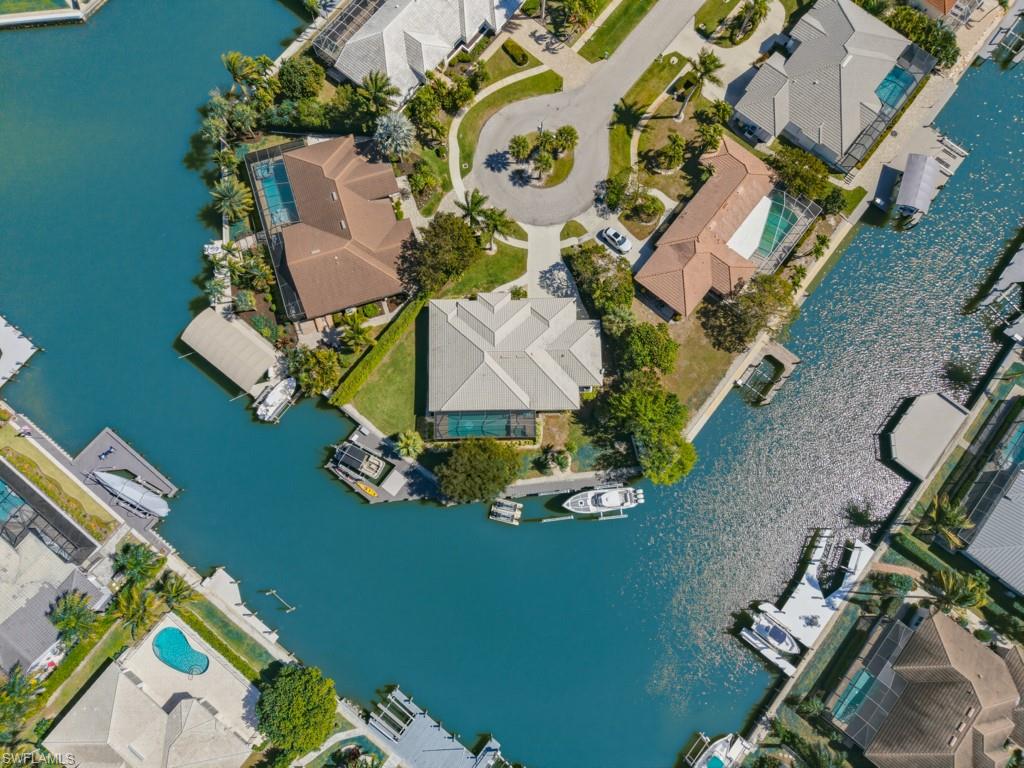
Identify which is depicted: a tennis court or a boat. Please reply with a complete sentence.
There is a boat in the scene.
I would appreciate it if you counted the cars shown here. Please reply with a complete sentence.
Altogether the scene contains 1 car.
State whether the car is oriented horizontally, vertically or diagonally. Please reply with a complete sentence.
In this picture, the car is oriented diagonally.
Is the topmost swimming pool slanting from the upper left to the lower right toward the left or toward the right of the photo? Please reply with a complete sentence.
The topmost swimming pool slanting from the upper left to the lower right is on the left side of the image.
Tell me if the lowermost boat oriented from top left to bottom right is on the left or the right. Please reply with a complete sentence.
You can find the lowermost boat oriented from top left to bottom right on the right side of the picture.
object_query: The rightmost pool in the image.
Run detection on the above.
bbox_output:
[956,425,1024,534]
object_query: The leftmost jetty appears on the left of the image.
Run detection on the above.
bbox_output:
[0,314,43,392]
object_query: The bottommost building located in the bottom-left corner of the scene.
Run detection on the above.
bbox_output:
[42,658,261,768]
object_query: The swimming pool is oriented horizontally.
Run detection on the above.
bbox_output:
[436,409,534,438]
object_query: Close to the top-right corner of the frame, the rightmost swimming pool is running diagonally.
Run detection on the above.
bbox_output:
[846,44,935,158]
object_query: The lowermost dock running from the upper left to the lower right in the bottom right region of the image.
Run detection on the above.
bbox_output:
[763,645,798,676]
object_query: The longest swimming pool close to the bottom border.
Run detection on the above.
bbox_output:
[827,626,895,735]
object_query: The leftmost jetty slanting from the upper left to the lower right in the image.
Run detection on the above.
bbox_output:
[12,414,179,557]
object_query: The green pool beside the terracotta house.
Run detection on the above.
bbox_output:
[743,189,819,273]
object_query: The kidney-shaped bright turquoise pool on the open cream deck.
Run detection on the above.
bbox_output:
[151,624,211,677]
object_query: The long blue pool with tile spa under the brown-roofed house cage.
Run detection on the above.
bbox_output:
[247,142,318,318]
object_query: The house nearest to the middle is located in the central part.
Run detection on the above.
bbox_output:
[429,293,603,411]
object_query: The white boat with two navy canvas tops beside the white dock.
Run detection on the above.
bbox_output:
[748,611,804,656]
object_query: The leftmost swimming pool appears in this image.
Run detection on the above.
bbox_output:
[0,477,86,557]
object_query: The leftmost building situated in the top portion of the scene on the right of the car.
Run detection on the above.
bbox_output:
[633,137,777,316]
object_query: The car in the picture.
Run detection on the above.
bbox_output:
[600,226,633,254]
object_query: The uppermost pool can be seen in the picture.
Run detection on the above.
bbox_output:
[317,0,385,59]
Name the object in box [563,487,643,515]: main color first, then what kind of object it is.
white boat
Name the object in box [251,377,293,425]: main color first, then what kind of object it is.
white boat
